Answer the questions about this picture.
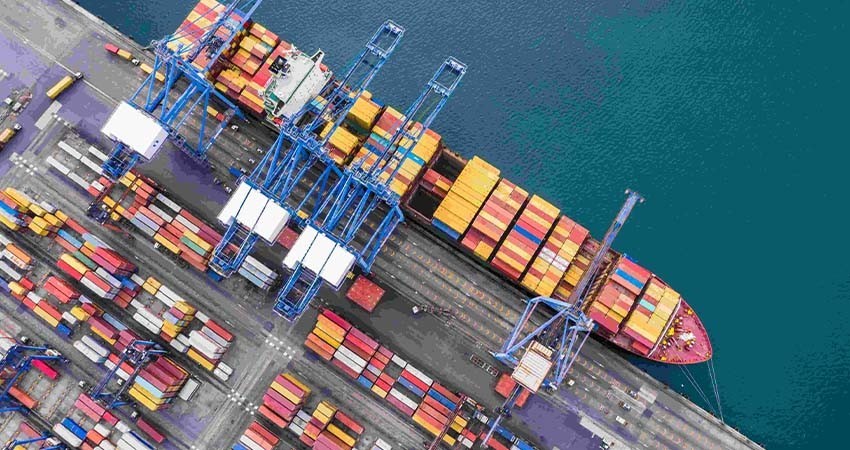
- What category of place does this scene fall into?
port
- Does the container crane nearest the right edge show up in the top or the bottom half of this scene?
bottom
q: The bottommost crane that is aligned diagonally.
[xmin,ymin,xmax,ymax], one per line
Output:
[417,389,475,450]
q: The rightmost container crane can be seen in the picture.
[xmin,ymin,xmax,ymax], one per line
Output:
[480,188,648,443]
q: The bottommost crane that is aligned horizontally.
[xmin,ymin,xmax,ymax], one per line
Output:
[5,428,66,450]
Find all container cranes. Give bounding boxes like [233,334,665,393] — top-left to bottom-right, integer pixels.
[0,342,63,413]
[90,337,174,411]
[417,389,475,450]
[266,54,471,325]
[5,428,66,450]
[204,17,409,280]
[480,188,648,443]
[82,169,167,242]
[85,0,259,195]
